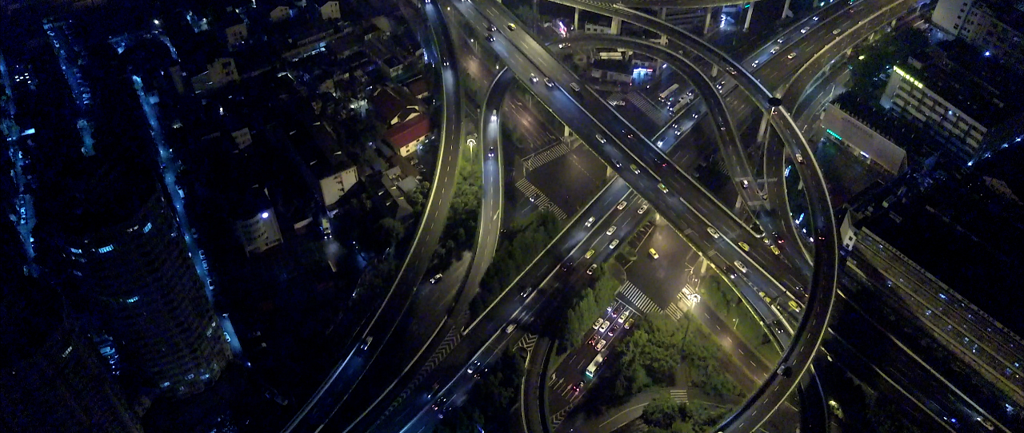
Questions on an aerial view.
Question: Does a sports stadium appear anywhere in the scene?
No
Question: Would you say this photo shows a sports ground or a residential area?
residential area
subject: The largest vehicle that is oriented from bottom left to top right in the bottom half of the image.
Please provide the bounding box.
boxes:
[582,346,608,379]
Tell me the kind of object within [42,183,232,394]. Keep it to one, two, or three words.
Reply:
building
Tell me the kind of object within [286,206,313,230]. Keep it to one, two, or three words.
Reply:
shed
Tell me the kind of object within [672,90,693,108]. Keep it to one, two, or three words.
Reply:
vehicle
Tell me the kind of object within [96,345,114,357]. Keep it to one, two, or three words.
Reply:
vehicle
